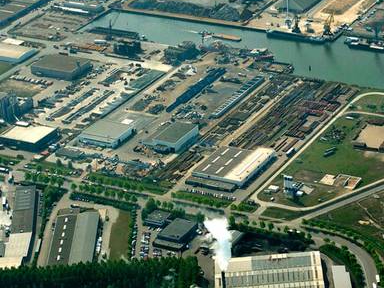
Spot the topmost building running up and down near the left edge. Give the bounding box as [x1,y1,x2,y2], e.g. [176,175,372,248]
[10,183,38,236]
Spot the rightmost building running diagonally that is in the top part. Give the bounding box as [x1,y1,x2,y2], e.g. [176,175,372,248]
[212,77,266,126]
